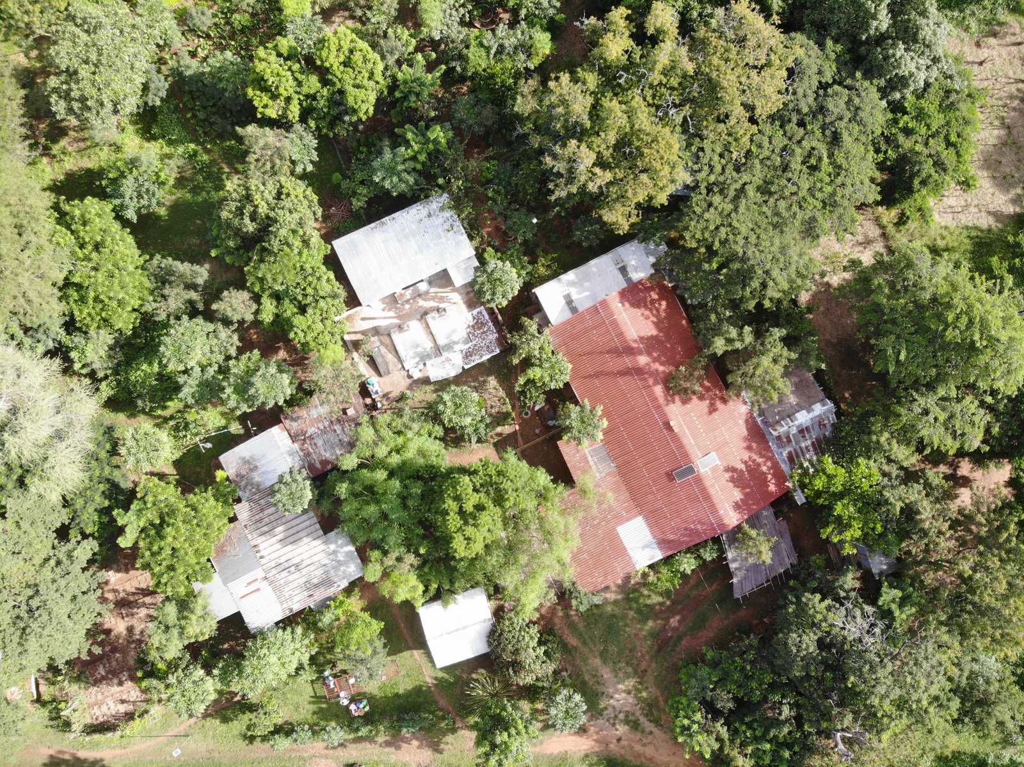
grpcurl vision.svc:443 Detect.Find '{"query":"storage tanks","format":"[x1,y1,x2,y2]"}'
[390,319,435,370]
[426,305,472,356]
